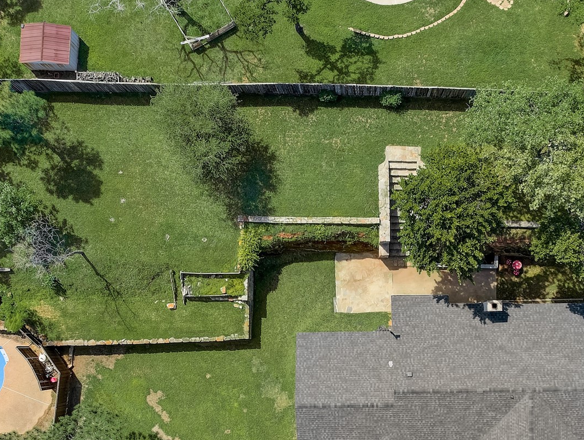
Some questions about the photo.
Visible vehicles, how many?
none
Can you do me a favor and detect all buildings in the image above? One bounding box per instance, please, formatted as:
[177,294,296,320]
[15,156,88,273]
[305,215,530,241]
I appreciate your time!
[295,295,584,440]
[20,22,78,73]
